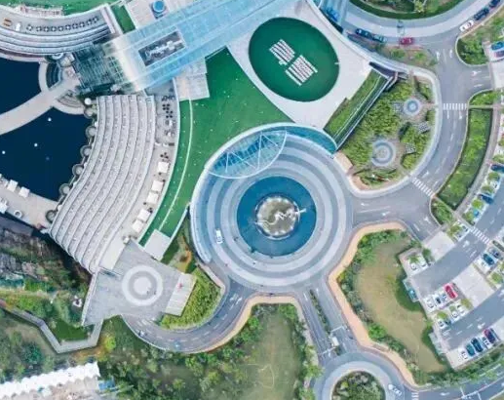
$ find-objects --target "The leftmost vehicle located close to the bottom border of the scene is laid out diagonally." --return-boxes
[389,385,404,397]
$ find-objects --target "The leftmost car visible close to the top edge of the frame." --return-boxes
[328,6,340,21]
